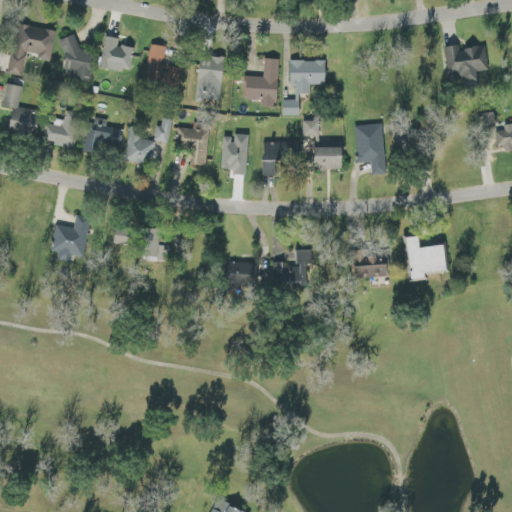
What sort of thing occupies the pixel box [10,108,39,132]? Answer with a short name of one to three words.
house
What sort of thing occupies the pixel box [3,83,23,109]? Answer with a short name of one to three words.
building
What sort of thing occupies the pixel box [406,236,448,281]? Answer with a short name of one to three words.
house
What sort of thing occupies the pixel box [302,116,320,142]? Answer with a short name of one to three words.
building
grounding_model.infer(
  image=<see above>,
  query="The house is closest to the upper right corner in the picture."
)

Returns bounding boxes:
[446,41,490,82]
